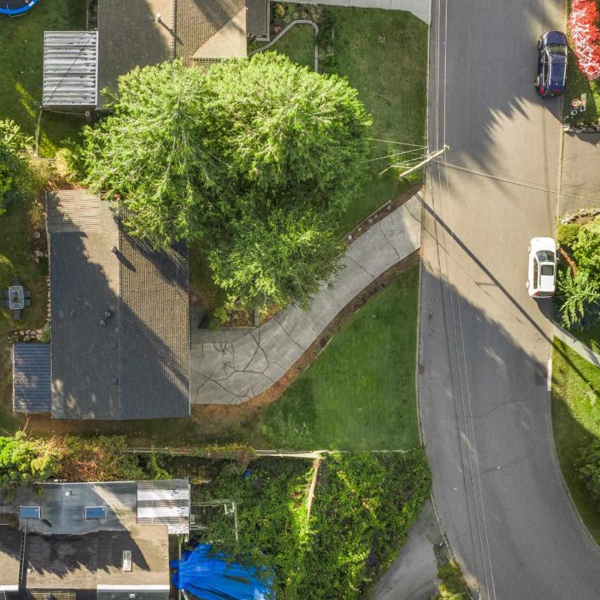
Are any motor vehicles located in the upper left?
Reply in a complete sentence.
No, looking in the upper left, there is no motor vehicle.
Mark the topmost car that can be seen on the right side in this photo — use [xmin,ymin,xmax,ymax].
[535,31,571,97]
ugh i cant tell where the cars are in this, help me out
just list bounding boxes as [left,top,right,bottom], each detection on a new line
[526,237,561,299]
[535,31,571,97]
